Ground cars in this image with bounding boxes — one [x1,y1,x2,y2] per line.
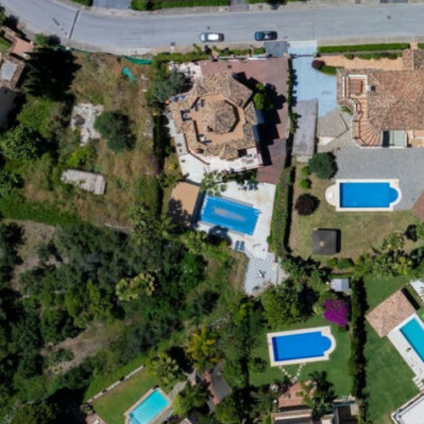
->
[255,30,277,41]
[200,33,224,44]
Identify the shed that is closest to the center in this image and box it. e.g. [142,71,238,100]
[169,182,204,217]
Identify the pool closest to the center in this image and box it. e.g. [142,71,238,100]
[199,194,261,238]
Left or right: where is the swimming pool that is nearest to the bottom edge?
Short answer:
left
